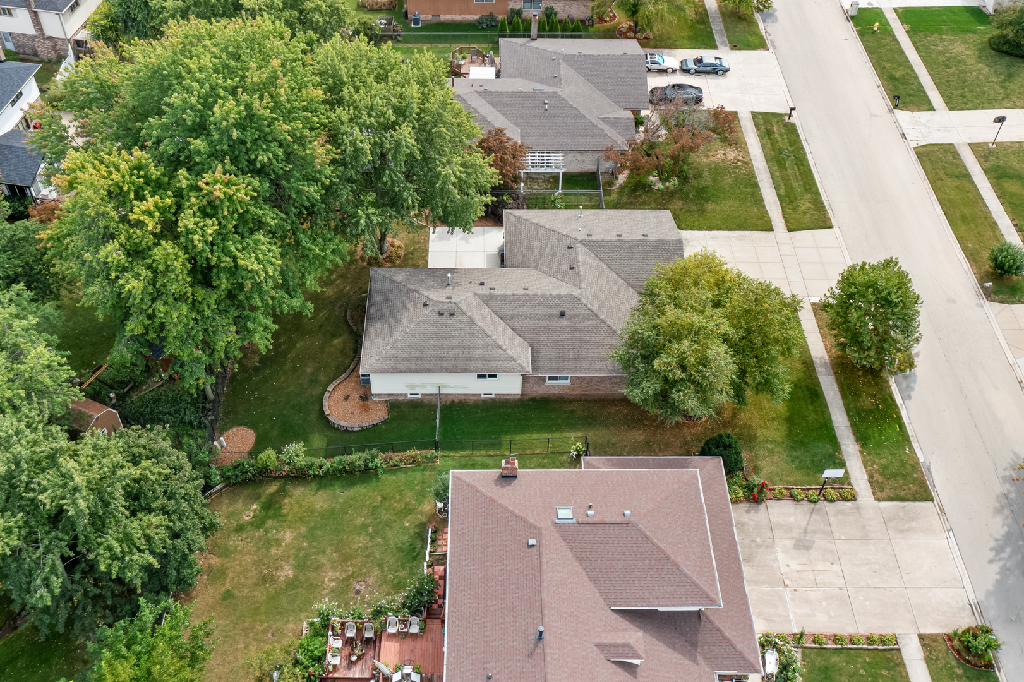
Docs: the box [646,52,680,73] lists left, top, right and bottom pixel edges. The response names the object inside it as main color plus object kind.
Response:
white car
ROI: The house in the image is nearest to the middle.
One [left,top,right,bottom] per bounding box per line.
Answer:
[359,206,684,399]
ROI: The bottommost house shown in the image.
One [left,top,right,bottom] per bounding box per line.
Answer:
[444,452,766,682]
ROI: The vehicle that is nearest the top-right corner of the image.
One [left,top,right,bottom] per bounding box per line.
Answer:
[679,54,731,76]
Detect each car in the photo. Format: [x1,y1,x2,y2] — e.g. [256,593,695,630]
[679,54,731,76]
[649,80,704,105]
[646,52,680,73]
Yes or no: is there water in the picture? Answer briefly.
No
